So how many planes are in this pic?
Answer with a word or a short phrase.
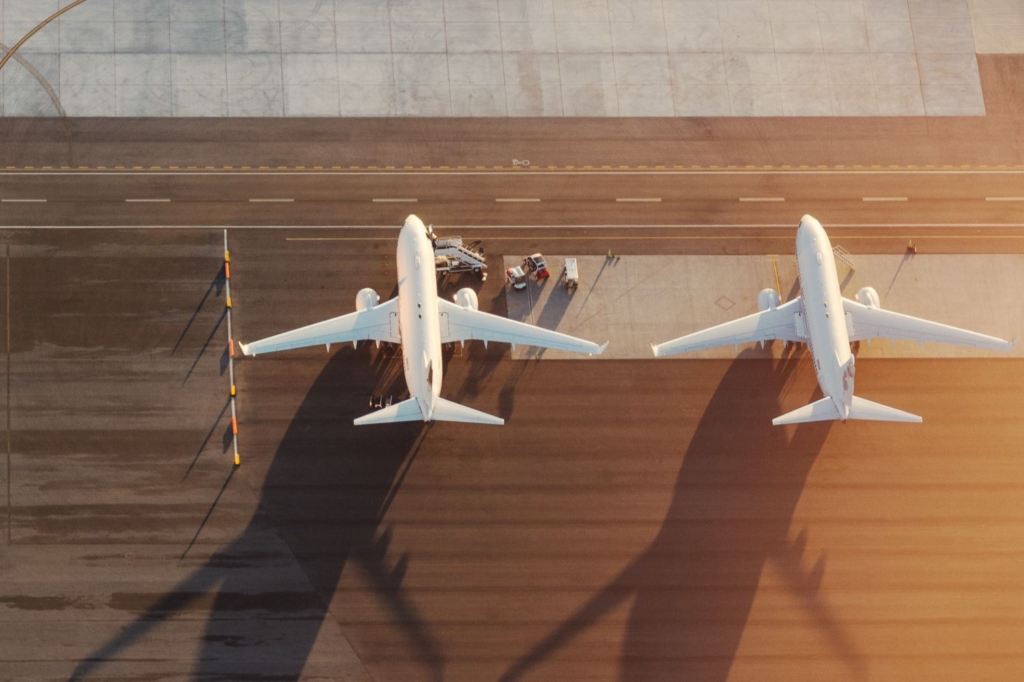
2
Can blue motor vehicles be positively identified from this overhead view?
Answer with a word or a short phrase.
No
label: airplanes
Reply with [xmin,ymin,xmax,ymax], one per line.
[650,215,1019,426]
[237,215,610,426]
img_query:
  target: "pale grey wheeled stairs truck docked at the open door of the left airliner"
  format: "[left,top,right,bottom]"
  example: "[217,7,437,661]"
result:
[433,234,489,275]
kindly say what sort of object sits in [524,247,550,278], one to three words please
work vehicle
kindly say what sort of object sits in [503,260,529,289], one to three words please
work vehicle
